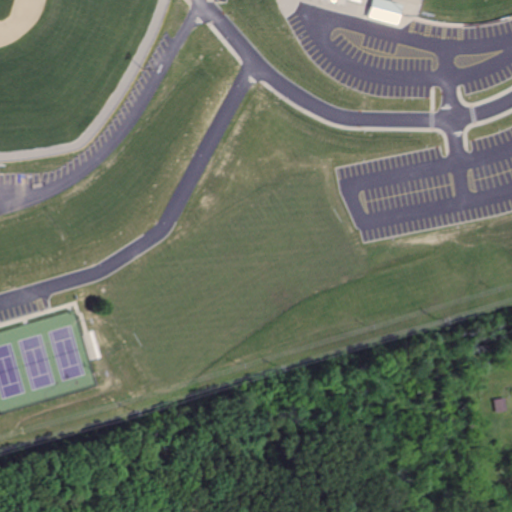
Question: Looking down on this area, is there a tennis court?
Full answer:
Yes, a tennis court can be made out from above.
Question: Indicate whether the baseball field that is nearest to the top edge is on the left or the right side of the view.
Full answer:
The baseball field that is nearest to the top edge appears in the left half of the scene.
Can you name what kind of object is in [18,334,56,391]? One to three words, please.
tennis court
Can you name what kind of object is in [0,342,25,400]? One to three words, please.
tennis court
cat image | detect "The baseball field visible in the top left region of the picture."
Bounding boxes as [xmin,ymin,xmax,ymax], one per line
[0,0,169,162]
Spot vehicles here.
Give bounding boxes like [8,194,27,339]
[32,182,43,188]
[157,64,164,74]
